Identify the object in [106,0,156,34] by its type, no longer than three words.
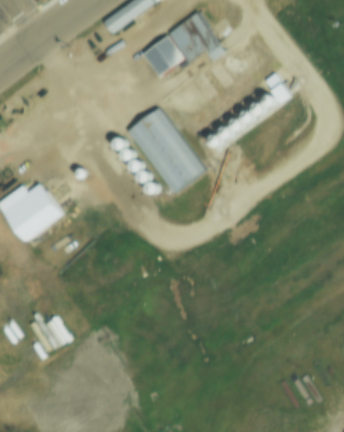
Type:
building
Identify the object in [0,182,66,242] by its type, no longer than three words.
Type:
building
